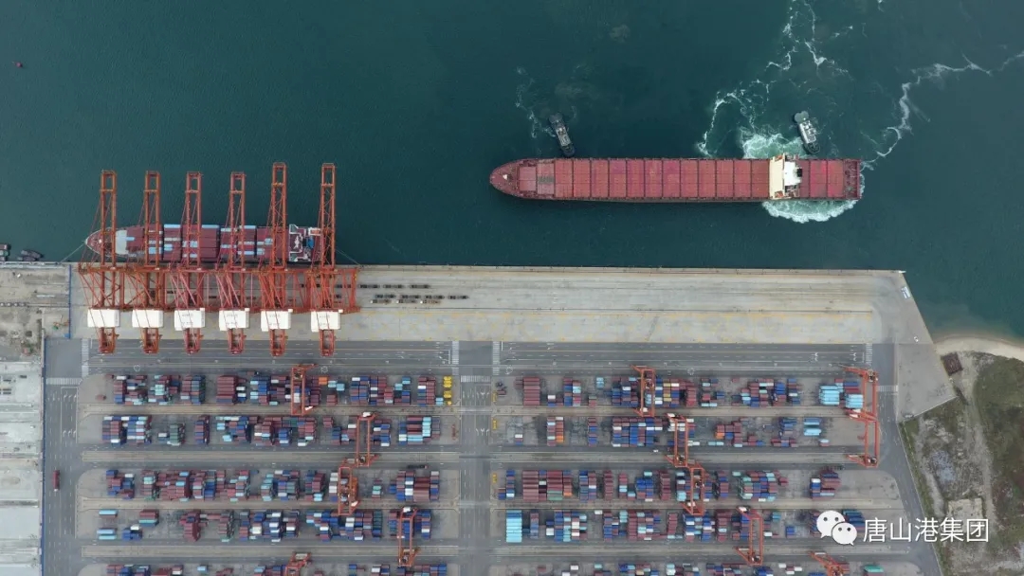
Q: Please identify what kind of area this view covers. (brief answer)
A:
port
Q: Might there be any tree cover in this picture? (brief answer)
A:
No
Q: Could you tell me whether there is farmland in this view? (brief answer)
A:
No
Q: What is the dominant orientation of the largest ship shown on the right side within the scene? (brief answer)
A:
horizontally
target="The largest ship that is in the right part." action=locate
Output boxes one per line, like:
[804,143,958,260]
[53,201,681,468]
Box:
[490,150,861,203]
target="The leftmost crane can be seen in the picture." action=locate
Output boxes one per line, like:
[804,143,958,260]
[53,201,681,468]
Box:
[71,169,154,356]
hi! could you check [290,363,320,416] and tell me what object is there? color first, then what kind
red crane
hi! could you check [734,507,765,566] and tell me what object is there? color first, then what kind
red crane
